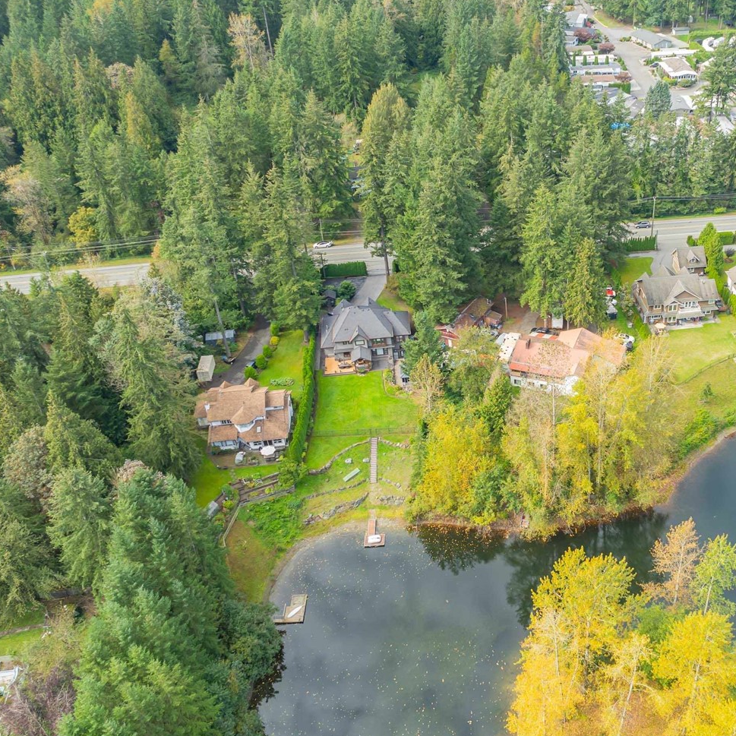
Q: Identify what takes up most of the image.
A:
trees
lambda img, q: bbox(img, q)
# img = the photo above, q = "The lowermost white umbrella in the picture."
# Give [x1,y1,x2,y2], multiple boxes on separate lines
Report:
[258,444,278,457]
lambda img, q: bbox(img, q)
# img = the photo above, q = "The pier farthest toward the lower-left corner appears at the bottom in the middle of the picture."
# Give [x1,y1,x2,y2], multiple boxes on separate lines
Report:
[275,594,309,623]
